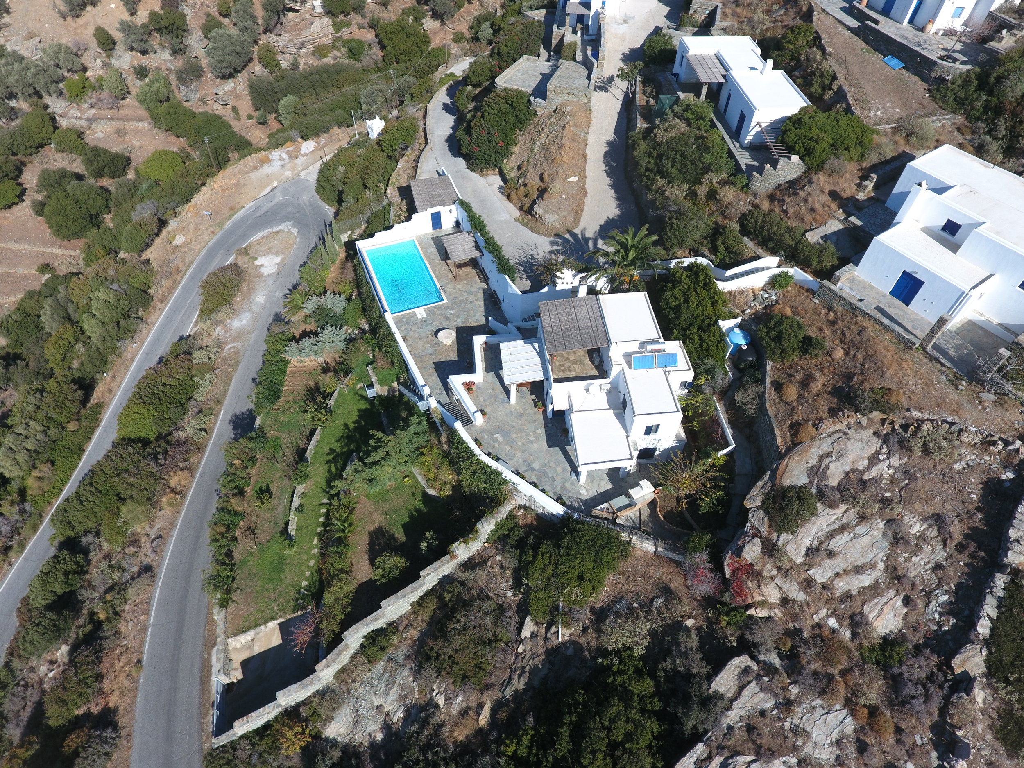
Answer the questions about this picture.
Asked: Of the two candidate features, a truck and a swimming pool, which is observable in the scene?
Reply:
swimming pool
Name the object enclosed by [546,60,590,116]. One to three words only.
building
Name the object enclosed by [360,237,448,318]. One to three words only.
swimming pool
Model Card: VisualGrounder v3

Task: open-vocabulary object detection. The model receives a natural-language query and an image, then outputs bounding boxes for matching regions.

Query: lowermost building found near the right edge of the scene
[857,144,1024,332]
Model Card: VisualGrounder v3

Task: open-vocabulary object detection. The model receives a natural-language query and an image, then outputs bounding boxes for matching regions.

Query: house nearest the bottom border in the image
[538,292,696,483]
